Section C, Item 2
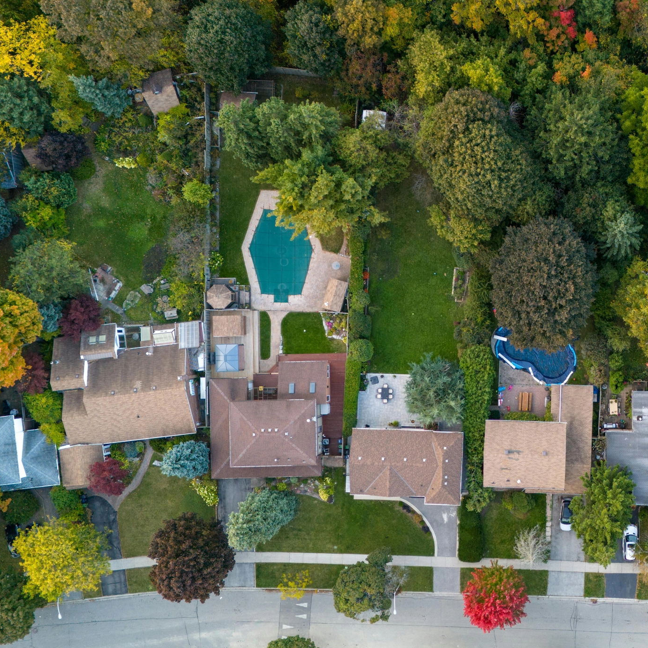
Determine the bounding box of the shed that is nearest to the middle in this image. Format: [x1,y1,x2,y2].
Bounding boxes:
[323,278,349,312]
